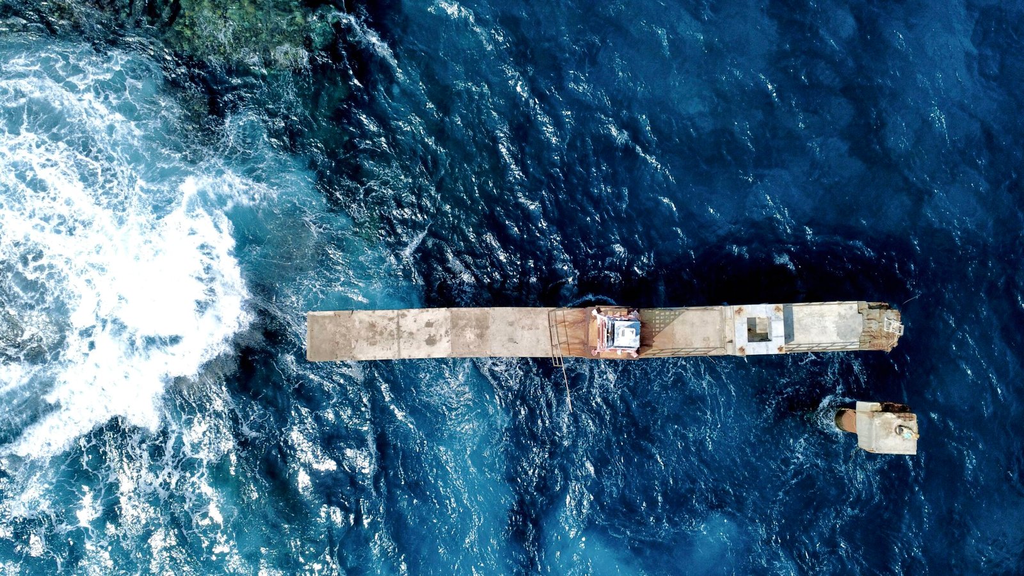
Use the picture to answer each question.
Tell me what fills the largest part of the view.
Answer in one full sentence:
For the most part, this view shows water.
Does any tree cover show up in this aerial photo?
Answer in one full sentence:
No, the scene doesn't show any tree cover.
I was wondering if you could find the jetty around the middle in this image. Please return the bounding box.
[308,301,901,361]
